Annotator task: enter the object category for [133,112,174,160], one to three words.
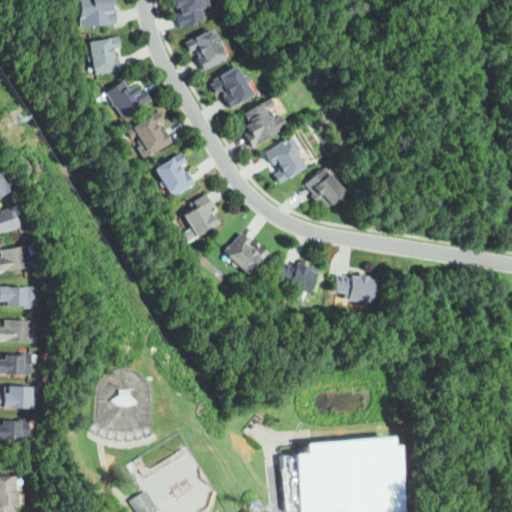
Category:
house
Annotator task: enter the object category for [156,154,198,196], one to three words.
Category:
house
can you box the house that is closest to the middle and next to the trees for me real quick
[226,234,270,274]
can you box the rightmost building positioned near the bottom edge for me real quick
[280,436,408,512]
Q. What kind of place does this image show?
residential area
